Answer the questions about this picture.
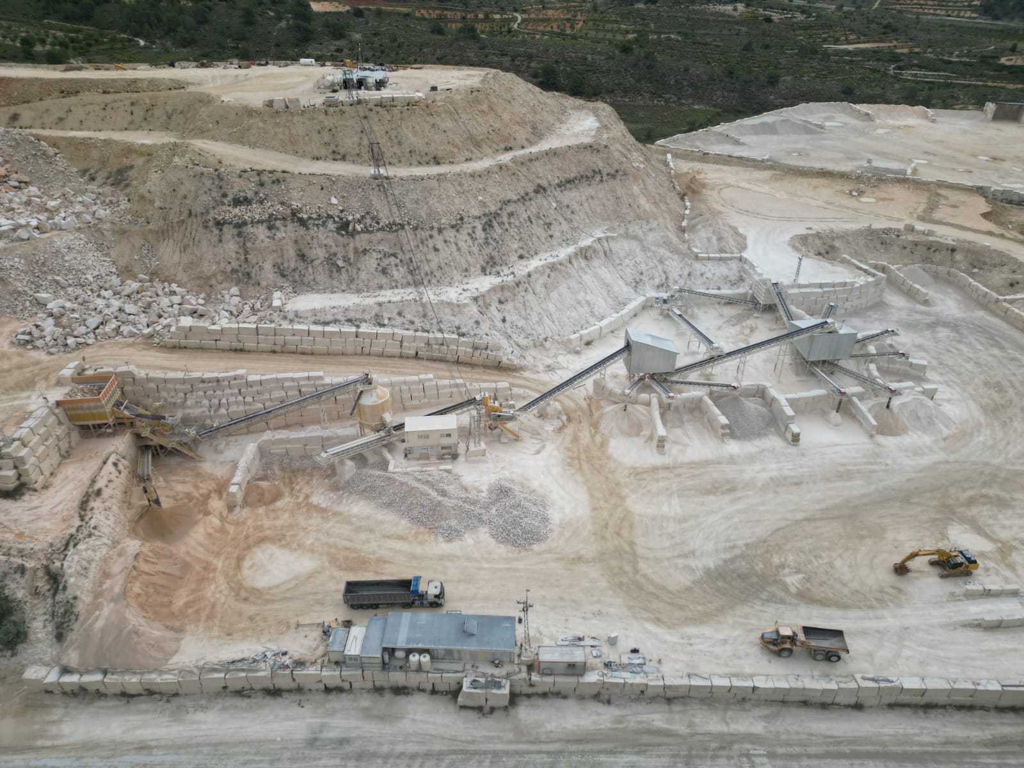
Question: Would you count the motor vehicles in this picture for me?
3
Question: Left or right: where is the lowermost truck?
right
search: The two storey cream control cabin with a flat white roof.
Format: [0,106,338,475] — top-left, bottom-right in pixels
[401,416,458,461]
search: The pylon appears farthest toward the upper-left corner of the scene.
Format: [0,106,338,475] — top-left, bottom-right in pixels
[341,60,353,98]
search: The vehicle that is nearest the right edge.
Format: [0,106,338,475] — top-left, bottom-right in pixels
[896,545,989,582]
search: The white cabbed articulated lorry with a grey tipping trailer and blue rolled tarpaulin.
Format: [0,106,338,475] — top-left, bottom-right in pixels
[343,572,447,606]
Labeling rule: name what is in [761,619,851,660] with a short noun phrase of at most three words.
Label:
truck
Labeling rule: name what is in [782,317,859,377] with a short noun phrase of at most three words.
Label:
house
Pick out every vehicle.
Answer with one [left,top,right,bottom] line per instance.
[761,619,851,660]
[343,572,447,606]
[896,545,989,582]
